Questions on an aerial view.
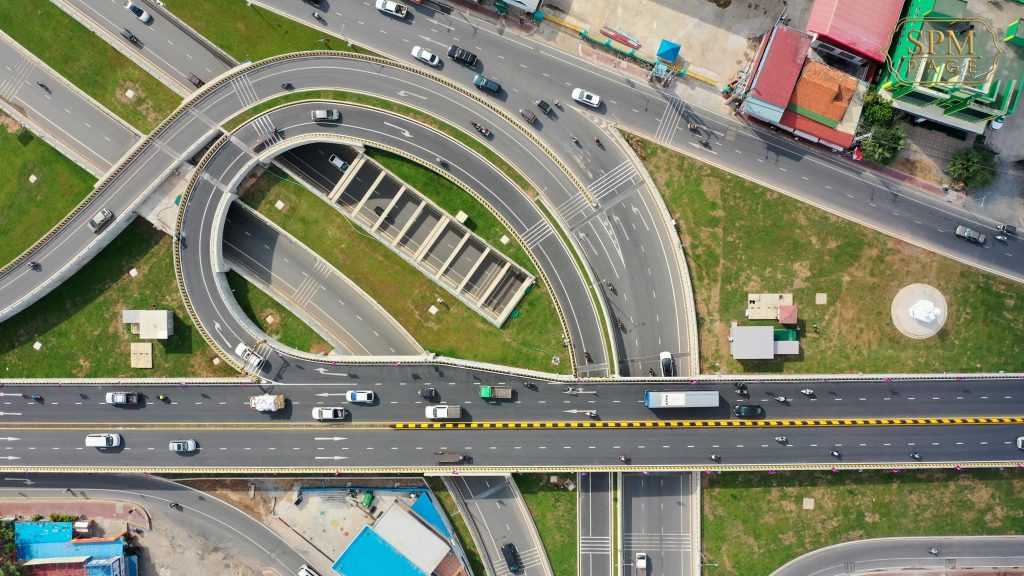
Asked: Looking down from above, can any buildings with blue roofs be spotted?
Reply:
Yes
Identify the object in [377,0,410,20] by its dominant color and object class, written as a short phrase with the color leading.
white vehicle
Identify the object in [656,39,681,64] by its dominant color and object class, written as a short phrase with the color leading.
blue tent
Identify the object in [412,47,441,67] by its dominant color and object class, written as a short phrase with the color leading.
white car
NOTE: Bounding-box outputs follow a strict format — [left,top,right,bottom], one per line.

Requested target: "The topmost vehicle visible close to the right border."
[987,118,1005,138]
